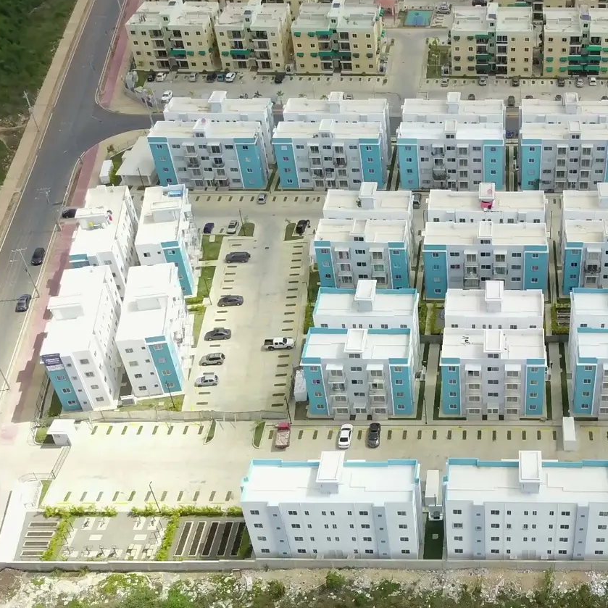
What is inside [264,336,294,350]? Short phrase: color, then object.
white vehicle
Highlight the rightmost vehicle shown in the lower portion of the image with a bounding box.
[367,422,382,446]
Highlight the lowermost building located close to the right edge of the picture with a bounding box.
[442,451,608,562]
